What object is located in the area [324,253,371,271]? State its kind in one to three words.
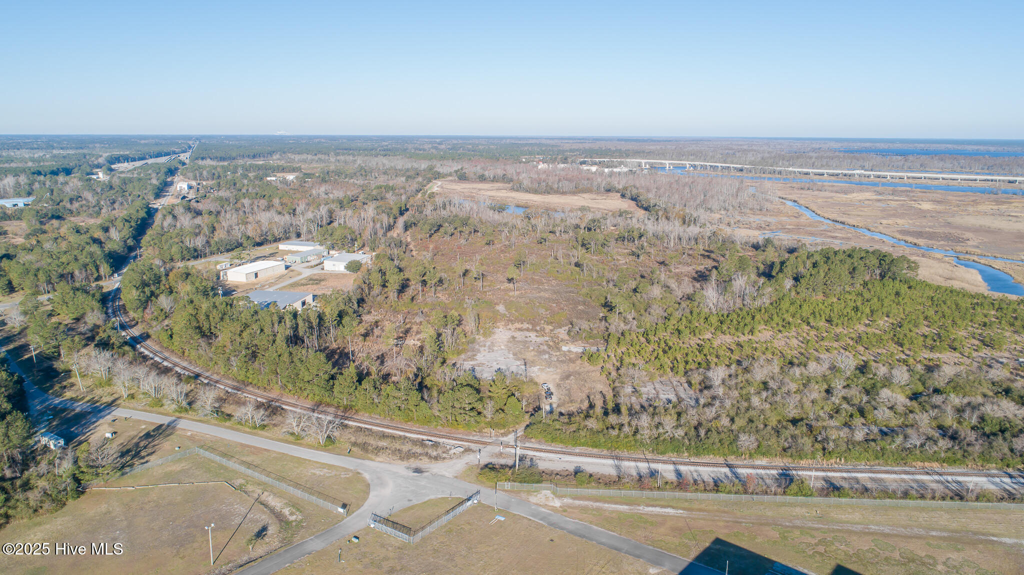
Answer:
building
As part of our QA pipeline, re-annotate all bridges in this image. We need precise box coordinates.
[546,159,1024,184]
